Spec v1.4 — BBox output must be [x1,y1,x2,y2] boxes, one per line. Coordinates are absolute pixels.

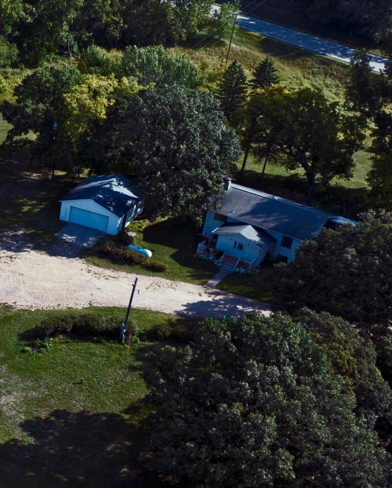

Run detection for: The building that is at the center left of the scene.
[57,174,145,236]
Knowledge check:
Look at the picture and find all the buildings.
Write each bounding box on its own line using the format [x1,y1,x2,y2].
[191,174,362,271]
[57,174,145,236]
